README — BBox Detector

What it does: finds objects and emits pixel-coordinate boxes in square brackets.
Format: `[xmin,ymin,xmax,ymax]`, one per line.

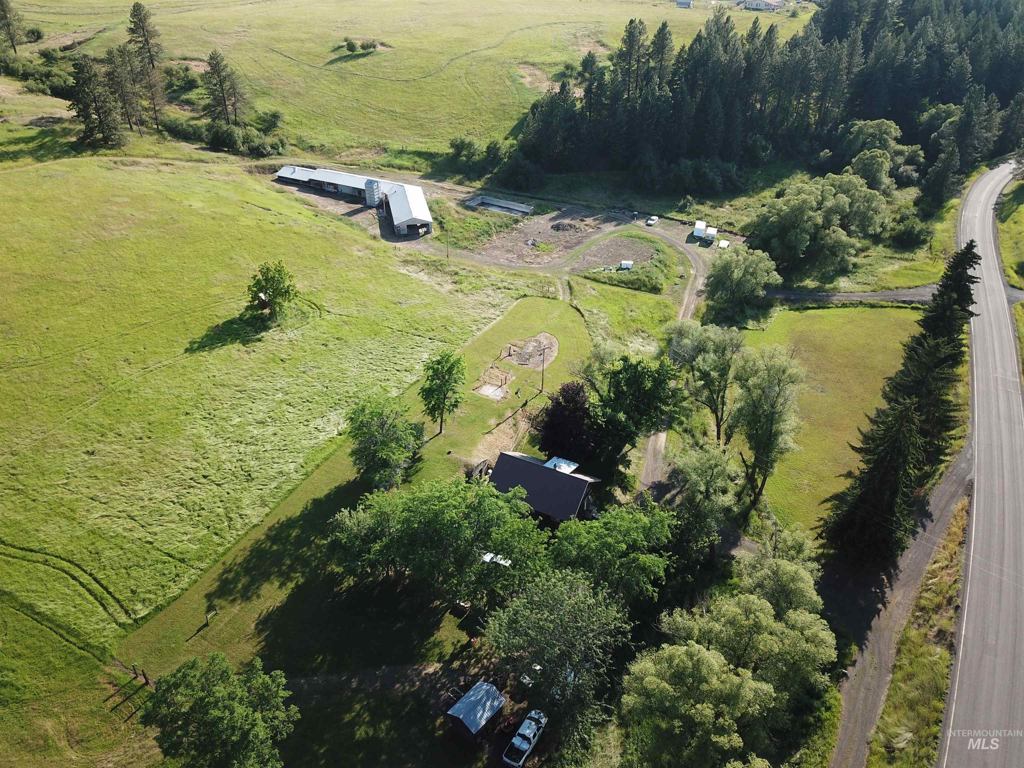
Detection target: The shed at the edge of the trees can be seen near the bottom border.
[447,682,505,746]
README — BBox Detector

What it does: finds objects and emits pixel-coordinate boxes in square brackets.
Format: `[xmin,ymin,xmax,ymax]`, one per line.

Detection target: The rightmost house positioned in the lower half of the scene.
[487,451,601,529]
